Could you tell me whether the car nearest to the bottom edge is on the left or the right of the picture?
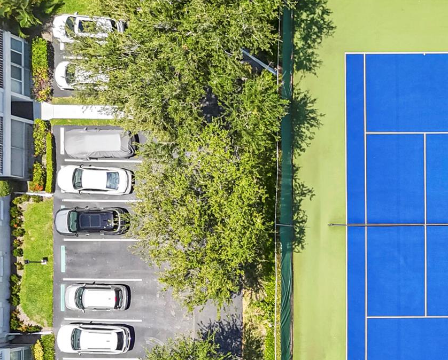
left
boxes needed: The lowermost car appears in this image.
[58,323,130,357]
